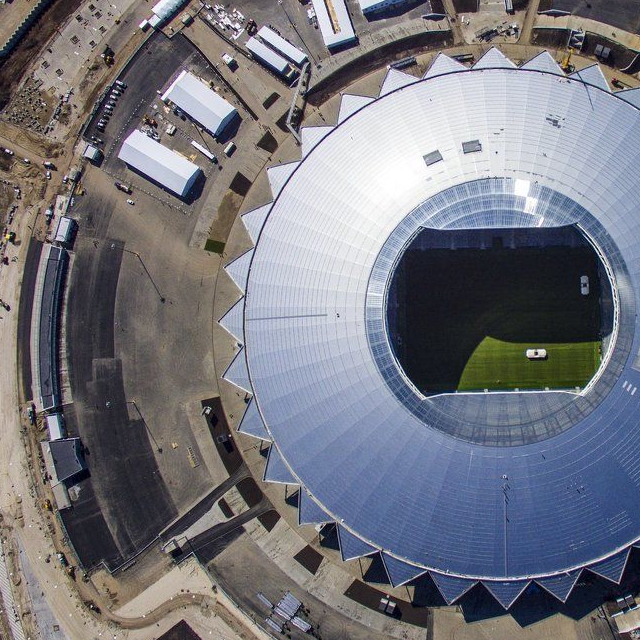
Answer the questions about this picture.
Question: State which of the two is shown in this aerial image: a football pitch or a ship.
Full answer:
The one in the frame is a football pitch.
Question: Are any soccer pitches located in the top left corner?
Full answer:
No, no soccer pitch is visible in the top left corner.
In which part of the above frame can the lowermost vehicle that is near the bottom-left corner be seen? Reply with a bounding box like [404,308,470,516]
[82,603,99,617]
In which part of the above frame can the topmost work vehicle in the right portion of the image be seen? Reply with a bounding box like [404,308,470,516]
[608,73,625,87]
